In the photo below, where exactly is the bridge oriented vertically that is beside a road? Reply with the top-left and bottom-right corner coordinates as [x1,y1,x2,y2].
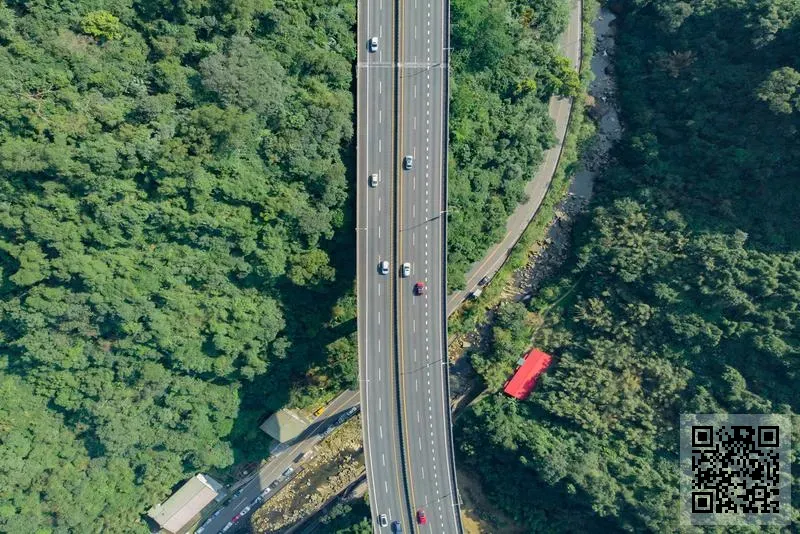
[357,0,463,534]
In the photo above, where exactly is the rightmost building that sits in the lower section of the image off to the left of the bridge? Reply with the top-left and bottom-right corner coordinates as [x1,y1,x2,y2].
[260,408,309,442]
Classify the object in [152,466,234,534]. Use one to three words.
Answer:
building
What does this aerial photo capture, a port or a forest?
forest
